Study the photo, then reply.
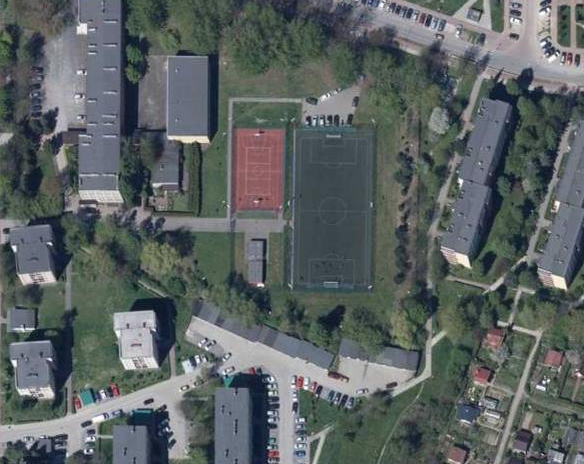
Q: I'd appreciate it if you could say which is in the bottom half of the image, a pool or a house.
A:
house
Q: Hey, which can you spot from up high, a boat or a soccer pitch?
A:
soccer pitch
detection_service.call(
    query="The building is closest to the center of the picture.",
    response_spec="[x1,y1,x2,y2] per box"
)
[247,240,265,284]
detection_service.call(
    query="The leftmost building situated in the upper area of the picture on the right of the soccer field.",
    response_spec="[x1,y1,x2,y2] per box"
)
[440,96,511,267]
